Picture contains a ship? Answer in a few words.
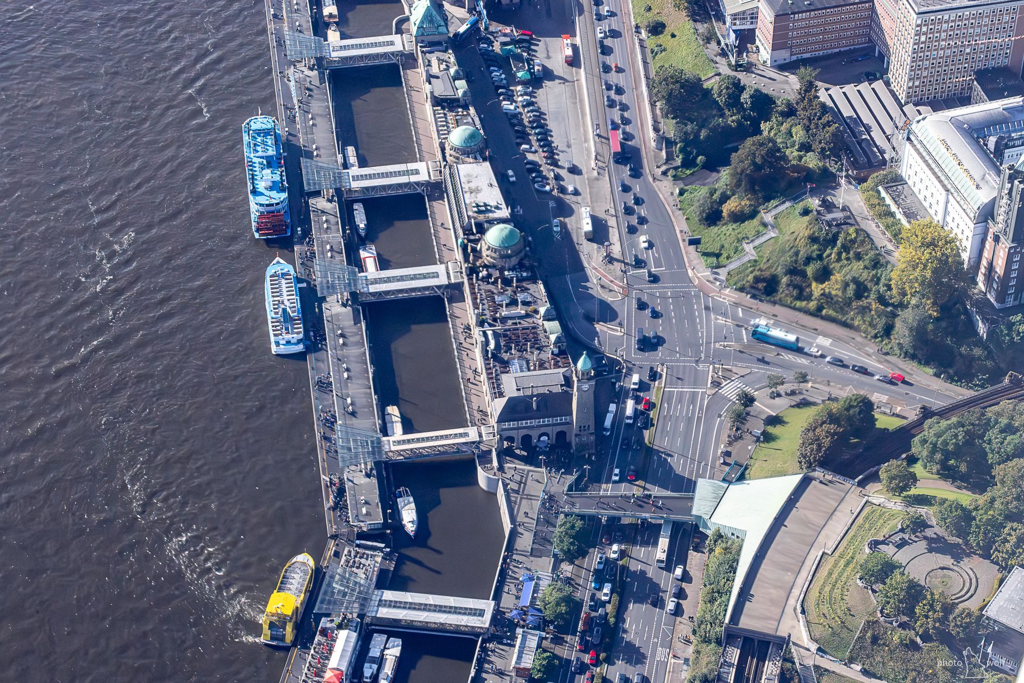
Yes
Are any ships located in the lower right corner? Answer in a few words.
No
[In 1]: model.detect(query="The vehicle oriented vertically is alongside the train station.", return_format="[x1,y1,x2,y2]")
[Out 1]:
[657,521,674,568]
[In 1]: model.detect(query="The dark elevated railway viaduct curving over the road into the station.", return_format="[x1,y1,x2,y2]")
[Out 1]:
[844,369,1024,492]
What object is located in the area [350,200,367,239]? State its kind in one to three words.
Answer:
boat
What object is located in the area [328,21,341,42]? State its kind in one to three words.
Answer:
boat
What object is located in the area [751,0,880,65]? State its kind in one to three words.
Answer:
building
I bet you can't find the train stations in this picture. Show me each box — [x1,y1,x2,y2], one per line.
[690,466,866,683]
